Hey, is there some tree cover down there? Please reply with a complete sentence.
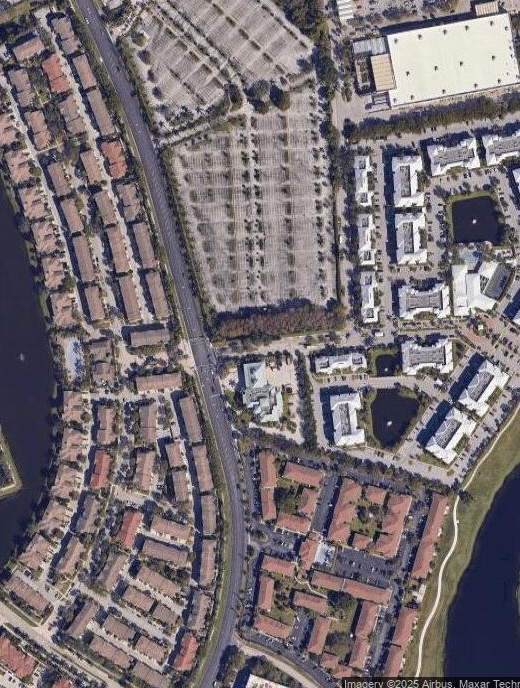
Yes, tree cover can be seen from above here.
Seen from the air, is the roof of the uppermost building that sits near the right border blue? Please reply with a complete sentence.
No, the roof of the uppermost building that sits near the right border is actually white.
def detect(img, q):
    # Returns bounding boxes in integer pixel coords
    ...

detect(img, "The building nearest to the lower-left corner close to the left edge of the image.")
[0,639,32,675]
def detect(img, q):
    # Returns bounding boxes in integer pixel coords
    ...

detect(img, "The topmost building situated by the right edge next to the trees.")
[387,14,520,107]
